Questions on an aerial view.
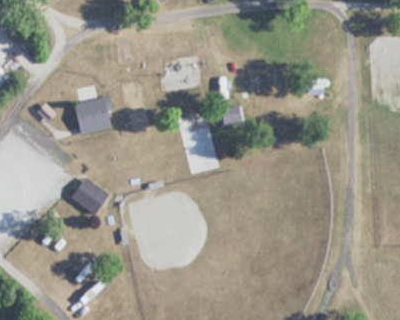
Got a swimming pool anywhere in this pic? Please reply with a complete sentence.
No, there isn't any swimming pool down there.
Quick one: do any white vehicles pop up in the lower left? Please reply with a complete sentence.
Yes, a white vehicle is visible in the lower left.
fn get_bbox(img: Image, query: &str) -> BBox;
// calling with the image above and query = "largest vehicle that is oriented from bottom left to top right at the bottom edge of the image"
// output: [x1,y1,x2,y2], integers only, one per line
[80,279,106,304]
